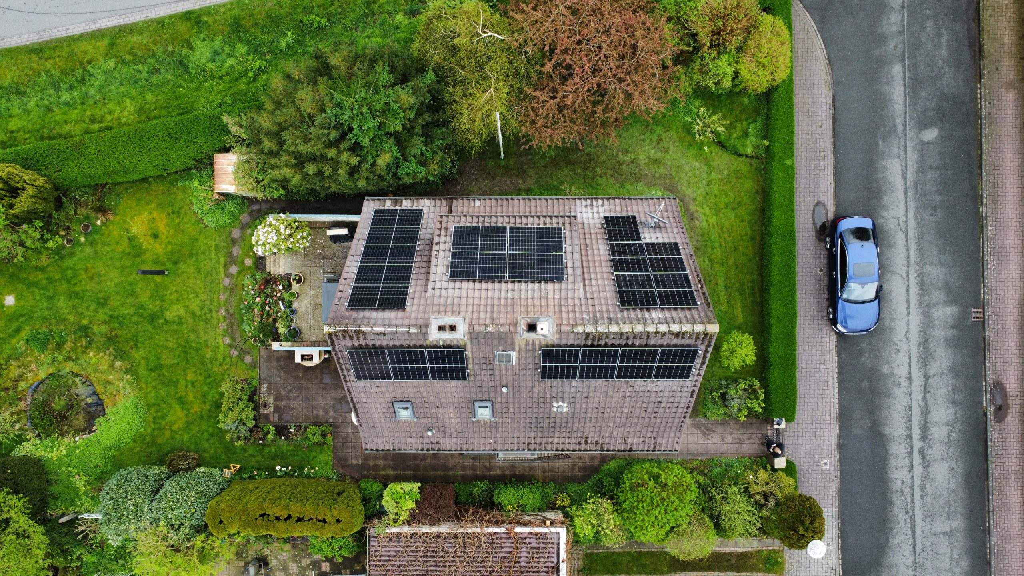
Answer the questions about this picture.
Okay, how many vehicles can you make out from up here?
1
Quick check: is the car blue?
Yes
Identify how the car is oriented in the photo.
up and down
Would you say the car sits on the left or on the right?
right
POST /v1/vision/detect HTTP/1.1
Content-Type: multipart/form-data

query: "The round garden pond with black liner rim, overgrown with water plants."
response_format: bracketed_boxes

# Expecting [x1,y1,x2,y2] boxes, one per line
[16,365,110,445]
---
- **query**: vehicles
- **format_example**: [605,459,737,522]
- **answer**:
[823,216,885,336]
